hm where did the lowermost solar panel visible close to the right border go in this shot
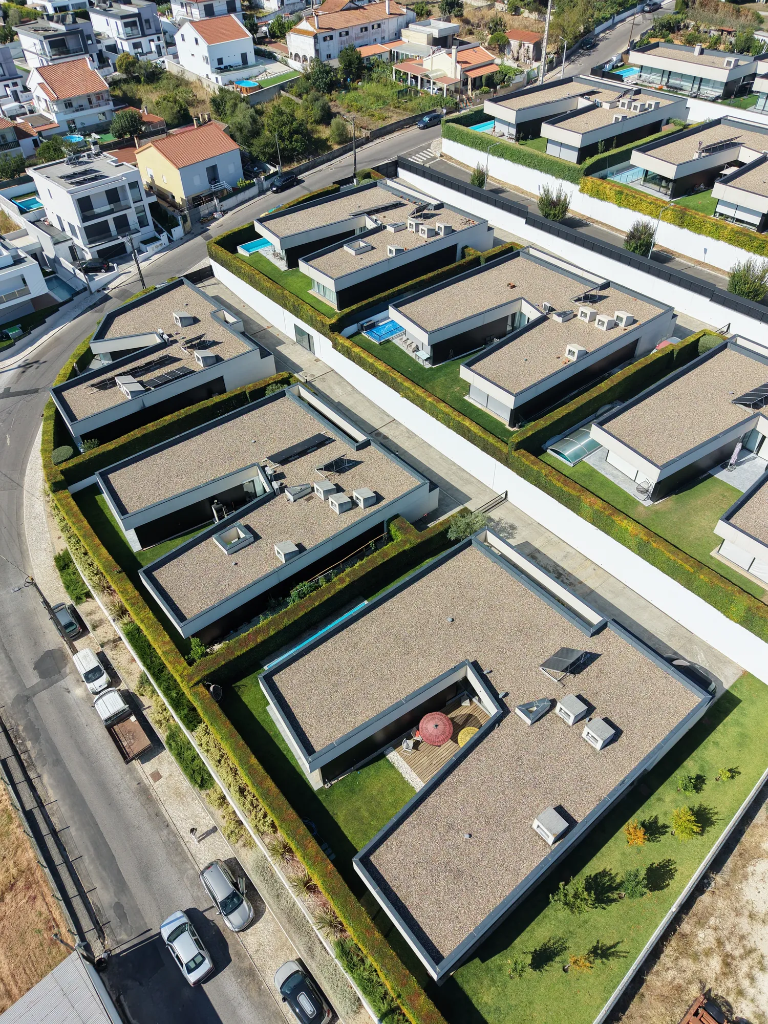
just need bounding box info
[734,383,768,412]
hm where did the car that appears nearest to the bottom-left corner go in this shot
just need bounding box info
[159,907,217,991]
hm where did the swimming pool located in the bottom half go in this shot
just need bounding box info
[264,603,374,673]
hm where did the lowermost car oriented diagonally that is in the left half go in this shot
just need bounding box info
[275,957,339,1024]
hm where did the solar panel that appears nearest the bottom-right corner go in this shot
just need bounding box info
[543,645,586,680]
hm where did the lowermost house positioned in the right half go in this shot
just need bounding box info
[260,534,722,987]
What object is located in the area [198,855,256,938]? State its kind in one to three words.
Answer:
car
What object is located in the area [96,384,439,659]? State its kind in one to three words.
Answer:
house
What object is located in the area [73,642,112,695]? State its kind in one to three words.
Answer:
van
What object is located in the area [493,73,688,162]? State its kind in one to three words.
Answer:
house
